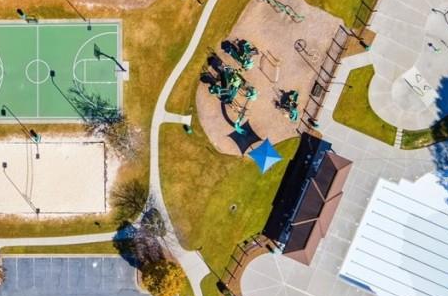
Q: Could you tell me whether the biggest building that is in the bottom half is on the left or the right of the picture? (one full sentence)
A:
The biggest building that is in the bottom half appears in the right half of the scene.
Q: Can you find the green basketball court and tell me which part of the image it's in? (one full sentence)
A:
The green basketball court is in the top left part of the image.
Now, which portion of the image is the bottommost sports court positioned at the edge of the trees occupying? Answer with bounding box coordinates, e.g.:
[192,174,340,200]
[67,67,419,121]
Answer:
[0,141,106,214]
